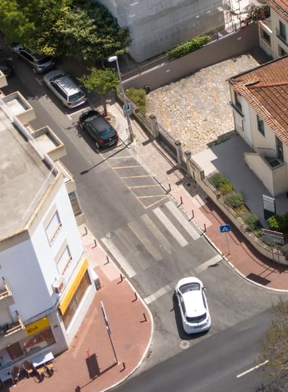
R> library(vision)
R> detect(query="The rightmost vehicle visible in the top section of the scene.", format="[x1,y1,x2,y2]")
[75,106,118,146]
